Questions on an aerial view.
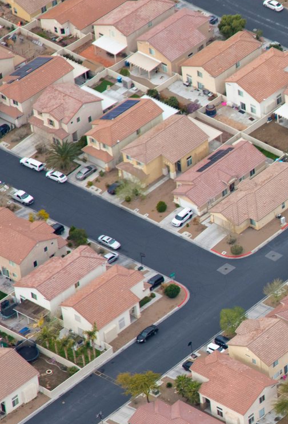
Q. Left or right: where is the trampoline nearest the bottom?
left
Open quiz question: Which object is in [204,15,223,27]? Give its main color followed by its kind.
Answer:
gray vehicle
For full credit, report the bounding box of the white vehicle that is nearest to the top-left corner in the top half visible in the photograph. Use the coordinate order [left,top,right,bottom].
[20,158,45,173]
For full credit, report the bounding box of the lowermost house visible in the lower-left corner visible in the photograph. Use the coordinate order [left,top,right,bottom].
[0,353,38,418]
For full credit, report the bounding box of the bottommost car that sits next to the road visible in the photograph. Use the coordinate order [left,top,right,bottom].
[178,360,195,373]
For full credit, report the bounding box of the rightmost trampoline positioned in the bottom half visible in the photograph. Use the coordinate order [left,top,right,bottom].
[16,336,38,357]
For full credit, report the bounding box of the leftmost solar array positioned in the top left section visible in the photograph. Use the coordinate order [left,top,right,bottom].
[10,58,45,79]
